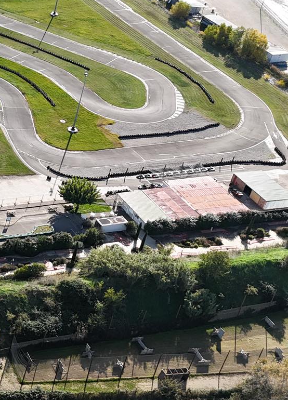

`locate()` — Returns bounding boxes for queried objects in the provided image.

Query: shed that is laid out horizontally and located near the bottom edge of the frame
[157,368,190,385]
